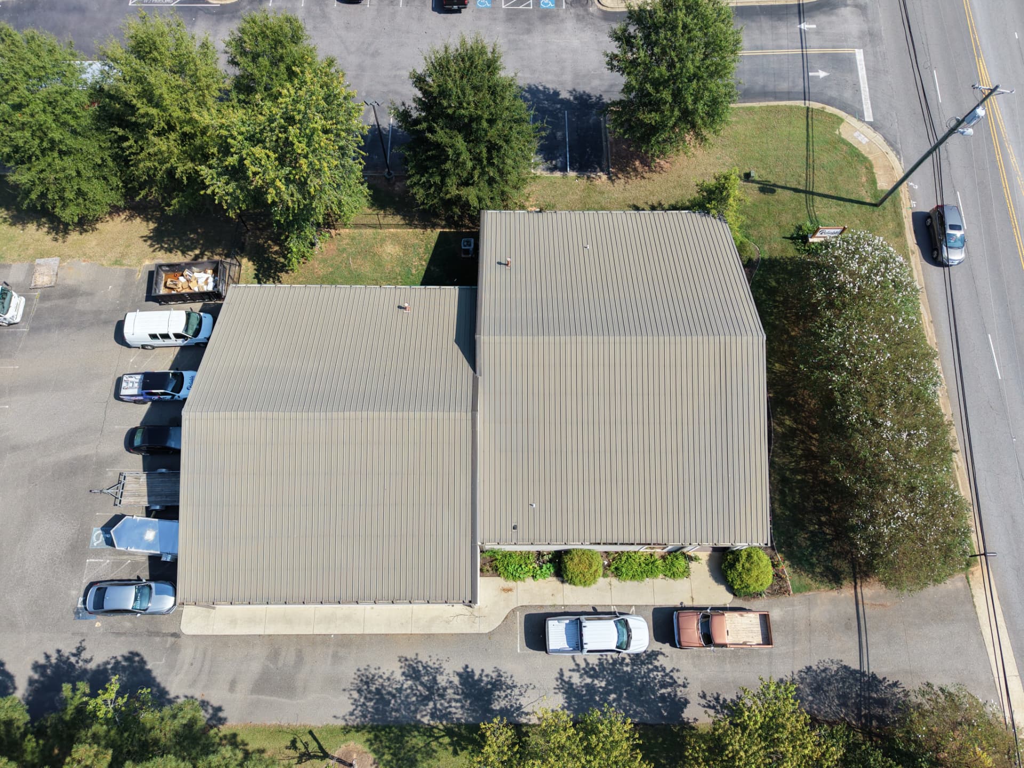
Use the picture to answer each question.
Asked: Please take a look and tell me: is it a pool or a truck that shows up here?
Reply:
truck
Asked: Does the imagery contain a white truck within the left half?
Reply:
Yes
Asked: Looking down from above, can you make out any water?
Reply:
No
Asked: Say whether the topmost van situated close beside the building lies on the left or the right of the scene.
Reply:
left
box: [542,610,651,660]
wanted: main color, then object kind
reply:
white truck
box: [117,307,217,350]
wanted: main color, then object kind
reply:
white van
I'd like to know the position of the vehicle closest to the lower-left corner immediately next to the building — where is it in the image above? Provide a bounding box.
[82,577,176,618]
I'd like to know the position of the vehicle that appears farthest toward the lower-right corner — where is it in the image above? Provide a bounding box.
[670,606,776,653]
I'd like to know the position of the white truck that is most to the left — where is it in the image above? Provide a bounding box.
[0,276,32,324]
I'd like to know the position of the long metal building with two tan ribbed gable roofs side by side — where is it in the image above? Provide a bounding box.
[176,210,770,614]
